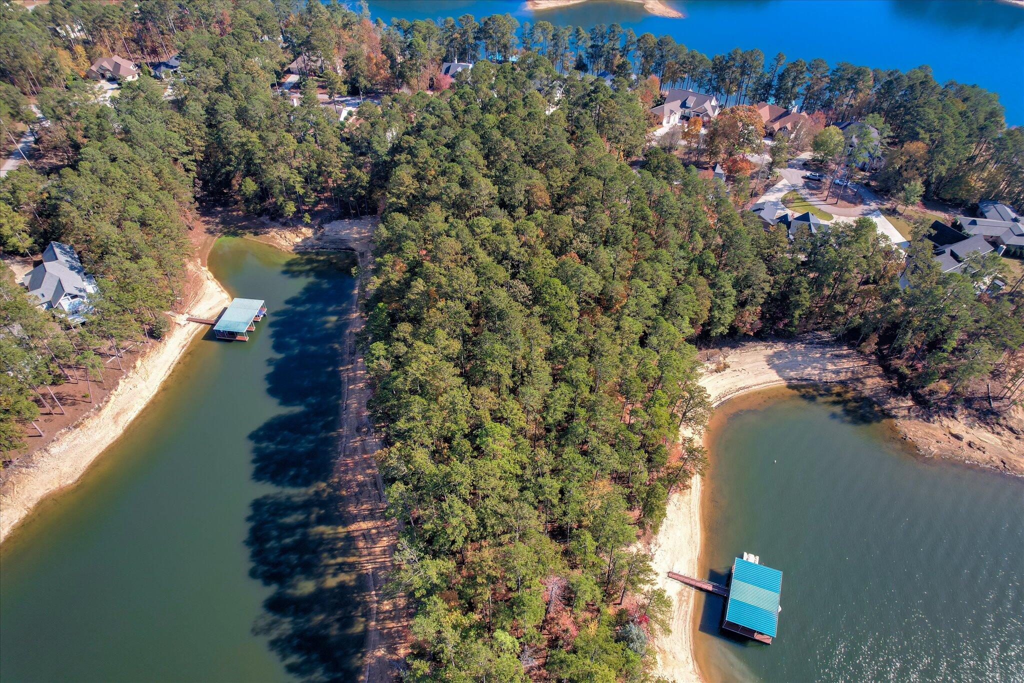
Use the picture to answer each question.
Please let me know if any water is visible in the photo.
Yes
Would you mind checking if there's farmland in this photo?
No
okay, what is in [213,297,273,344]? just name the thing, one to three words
pier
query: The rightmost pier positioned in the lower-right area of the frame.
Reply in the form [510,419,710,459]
[718,556,783,651]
